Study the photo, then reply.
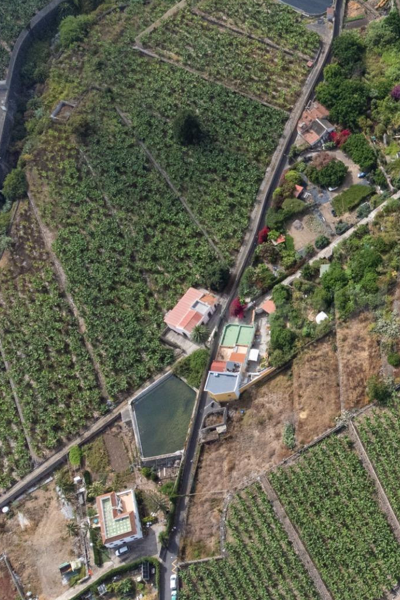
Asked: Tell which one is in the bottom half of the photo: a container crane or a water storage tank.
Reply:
water storage tank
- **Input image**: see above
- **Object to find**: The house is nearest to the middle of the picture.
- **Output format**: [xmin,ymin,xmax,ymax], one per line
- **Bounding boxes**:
[164,287,219,339]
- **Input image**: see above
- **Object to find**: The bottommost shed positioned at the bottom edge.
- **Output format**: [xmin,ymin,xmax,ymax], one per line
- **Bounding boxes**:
[59,557,85,578]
